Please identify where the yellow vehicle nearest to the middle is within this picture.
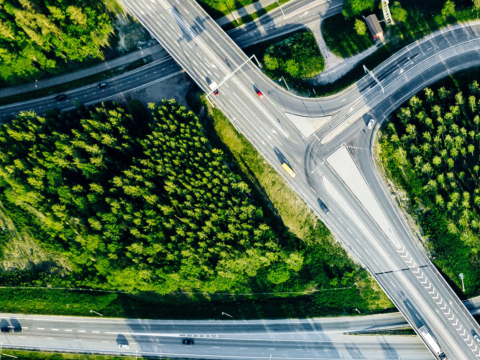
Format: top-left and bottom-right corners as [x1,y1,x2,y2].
[280,161,295,177]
